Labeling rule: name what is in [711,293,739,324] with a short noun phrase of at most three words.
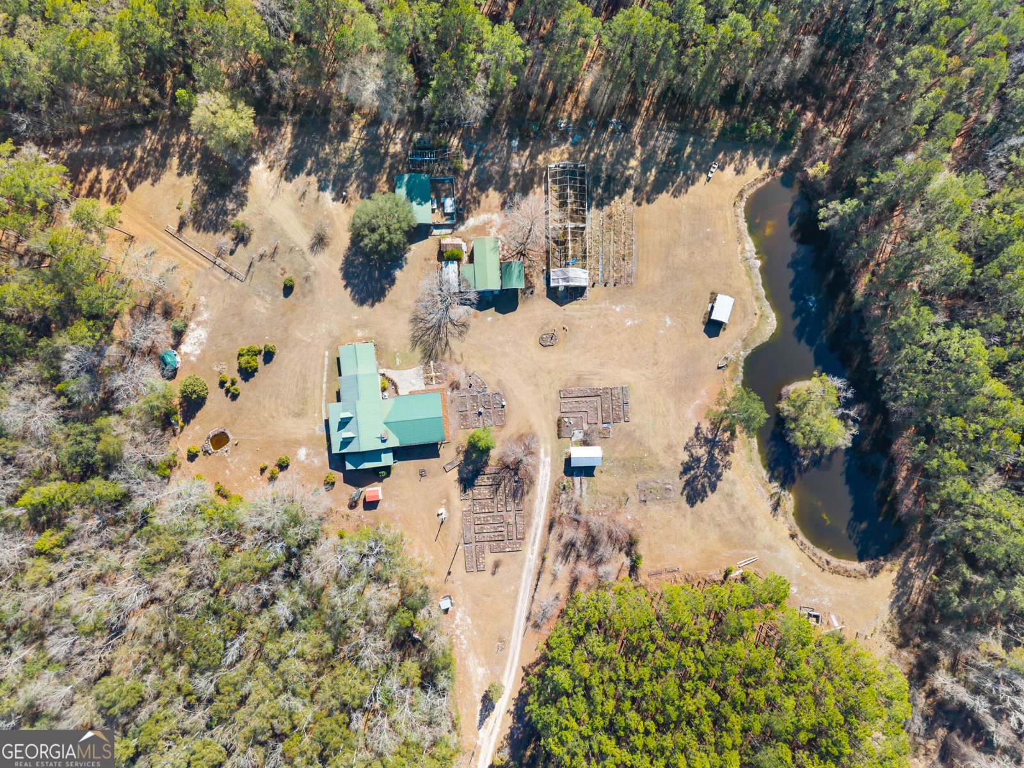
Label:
shed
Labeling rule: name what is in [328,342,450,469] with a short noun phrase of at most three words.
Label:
house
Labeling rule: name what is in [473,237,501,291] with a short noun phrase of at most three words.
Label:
shed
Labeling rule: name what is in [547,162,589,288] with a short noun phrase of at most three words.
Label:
greenhouse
